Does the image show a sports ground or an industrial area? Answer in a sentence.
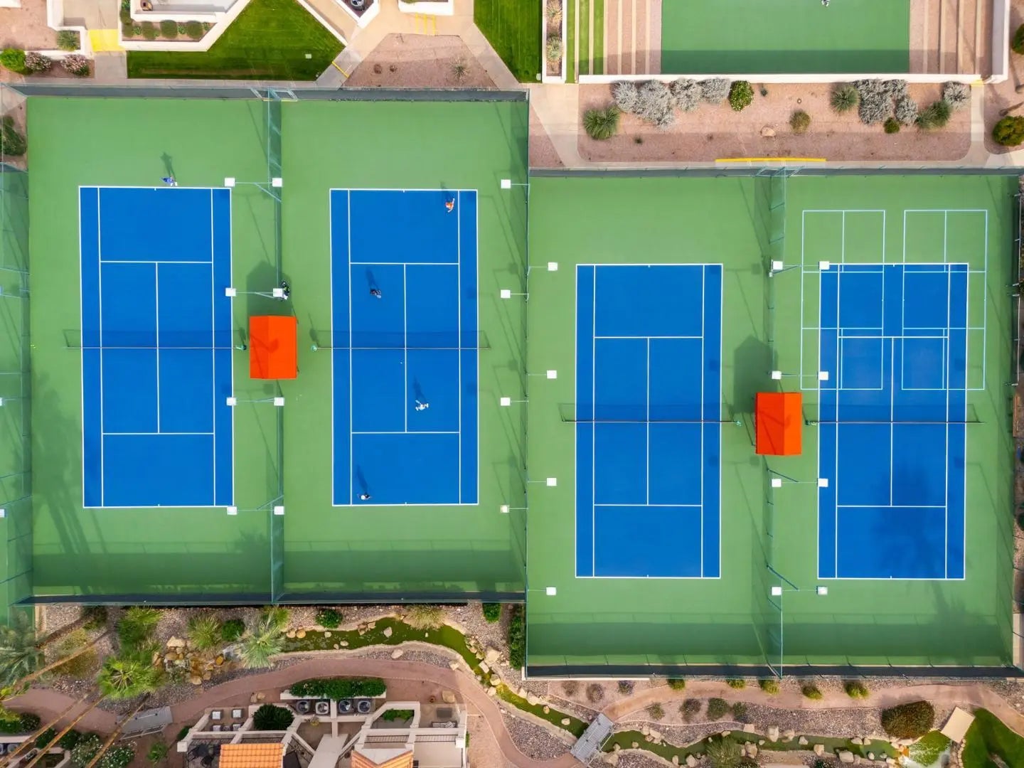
This looks like a sports ground.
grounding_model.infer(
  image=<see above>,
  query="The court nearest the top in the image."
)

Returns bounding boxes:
[661,0,910,74]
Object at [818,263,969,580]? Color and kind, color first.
blue tennis court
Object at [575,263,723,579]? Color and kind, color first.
blue tennis court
